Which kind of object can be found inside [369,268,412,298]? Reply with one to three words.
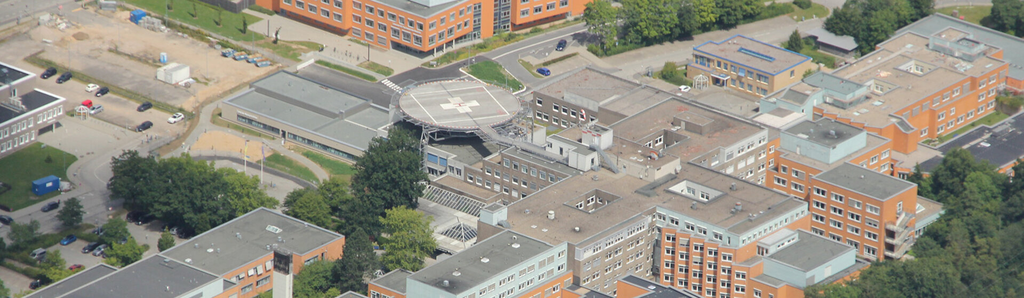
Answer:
building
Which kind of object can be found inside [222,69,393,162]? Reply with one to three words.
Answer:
building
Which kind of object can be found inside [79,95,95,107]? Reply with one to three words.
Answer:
vehicle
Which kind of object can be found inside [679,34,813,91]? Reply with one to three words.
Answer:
house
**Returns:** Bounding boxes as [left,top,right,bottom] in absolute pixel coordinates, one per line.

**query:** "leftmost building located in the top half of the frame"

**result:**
[0,60,66,157]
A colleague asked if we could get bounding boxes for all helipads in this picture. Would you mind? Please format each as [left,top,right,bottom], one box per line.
[391,79,570,175]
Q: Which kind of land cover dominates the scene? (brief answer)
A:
buildings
